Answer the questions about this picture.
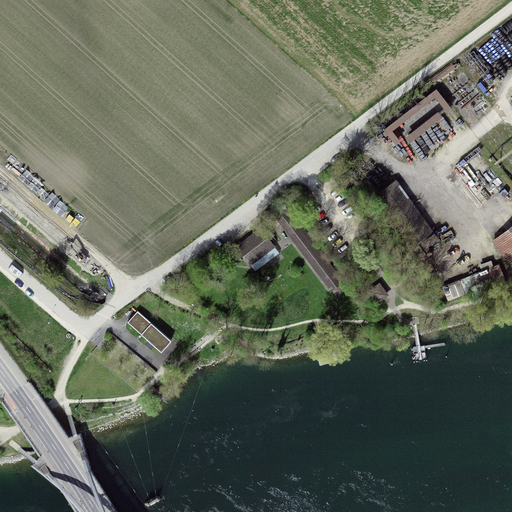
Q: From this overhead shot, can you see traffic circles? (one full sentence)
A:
No, the photo shows no traffic circle.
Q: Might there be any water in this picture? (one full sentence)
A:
Yes, the picture does contain water.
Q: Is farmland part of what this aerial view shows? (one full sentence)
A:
Yes, farmland shows up in the scene.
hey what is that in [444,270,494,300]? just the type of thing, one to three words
building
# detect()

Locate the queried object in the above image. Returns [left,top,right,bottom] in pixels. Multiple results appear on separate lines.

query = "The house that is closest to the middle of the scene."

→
[235,230,278,272]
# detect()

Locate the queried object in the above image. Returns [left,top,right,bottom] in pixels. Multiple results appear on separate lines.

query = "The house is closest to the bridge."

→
[128,311,171,353]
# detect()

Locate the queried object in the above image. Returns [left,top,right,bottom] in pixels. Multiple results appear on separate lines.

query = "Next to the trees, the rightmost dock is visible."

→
[411,316,446,362]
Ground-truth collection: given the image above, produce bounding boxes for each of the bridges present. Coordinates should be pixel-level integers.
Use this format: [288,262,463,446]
[0,346,114,512]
